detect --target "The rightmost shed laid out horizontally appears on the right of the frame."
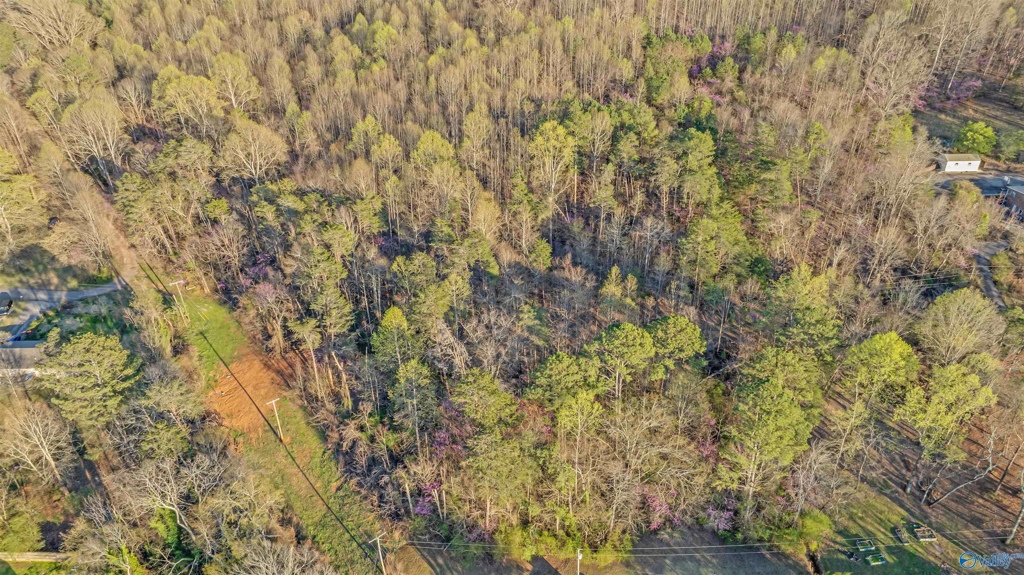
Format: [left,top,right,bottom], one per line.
[937,154,985,172]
